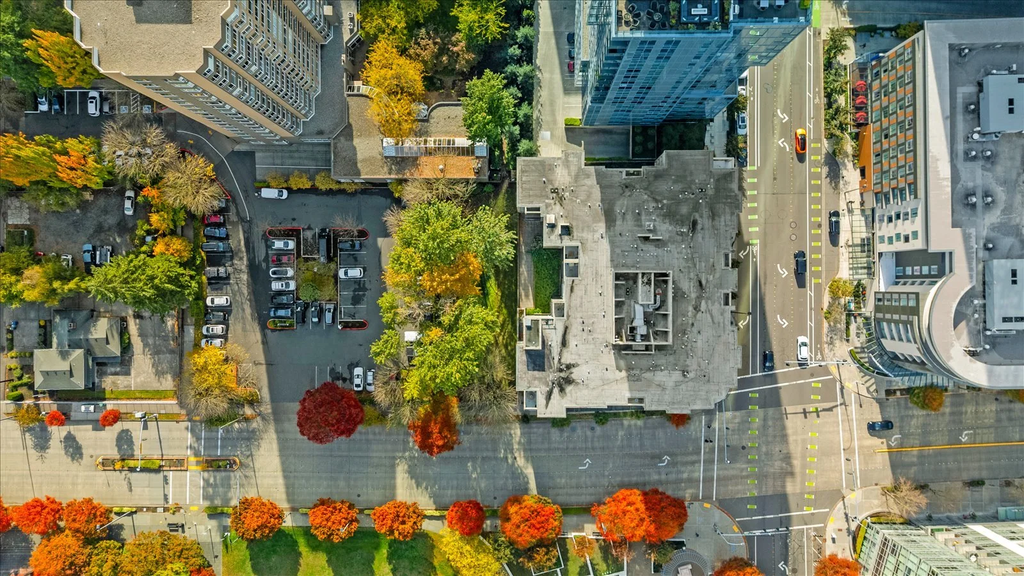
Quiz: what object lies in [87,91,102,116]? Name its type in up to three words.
car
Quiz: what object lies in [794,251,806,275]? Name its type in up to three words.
vehicle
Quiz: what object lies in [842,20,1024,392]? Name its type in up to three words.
building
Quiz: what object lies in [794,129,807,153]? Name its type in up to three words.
vehicle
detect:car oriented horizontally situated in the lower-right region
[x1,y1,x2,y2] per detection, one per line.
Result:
[866,420,893,432]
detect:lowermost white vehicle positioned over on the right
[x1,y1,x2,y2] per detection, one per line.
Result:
[796,337,810,361]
